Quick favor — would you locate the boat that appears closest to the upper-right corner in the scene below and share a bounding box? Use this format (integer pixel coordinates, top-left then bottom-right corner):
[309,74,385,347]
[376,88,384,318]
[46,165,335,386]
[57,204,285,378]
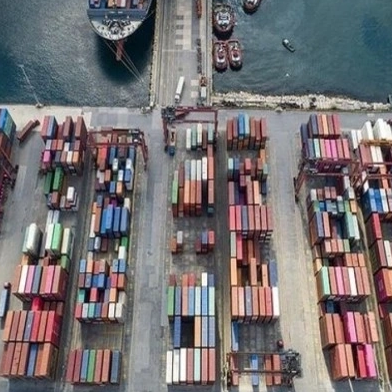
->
[280,39,295,53]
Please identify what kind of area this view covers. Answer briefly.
port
